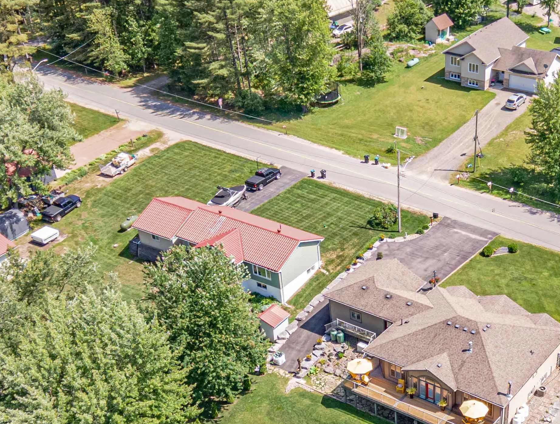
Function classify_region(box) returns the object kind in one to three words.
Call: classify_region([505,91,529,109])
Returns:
car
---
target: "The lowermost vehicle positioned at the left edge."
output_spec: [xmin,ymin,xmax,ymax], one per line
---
[24,223,66,246]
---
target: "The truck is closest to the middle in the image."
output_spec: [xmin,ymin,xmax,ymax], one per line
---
[244,166,284,193]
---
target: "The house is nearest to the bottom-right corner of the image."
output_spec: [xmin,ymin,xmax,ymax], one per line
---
[320,263,560,424]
